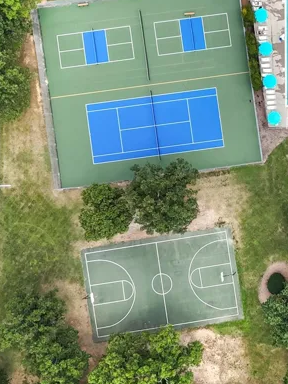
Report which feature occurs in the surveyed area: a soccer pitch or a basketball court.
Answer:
basketball court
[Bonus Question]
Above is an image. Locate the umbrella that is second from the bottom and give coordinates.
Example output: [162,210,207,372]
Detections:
[263,73,277,88]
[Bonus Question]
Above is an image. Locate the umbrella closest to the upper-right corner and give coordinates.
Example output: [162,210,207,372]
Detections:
[254,8,268,23]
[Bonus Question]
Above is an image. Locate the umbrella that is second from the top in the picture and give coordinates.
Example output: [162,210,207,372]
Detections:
[259,42,273,56]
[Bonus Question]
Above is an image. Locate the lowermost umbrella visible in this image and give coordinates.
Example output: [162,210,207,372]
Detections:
[266,111,280,125]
